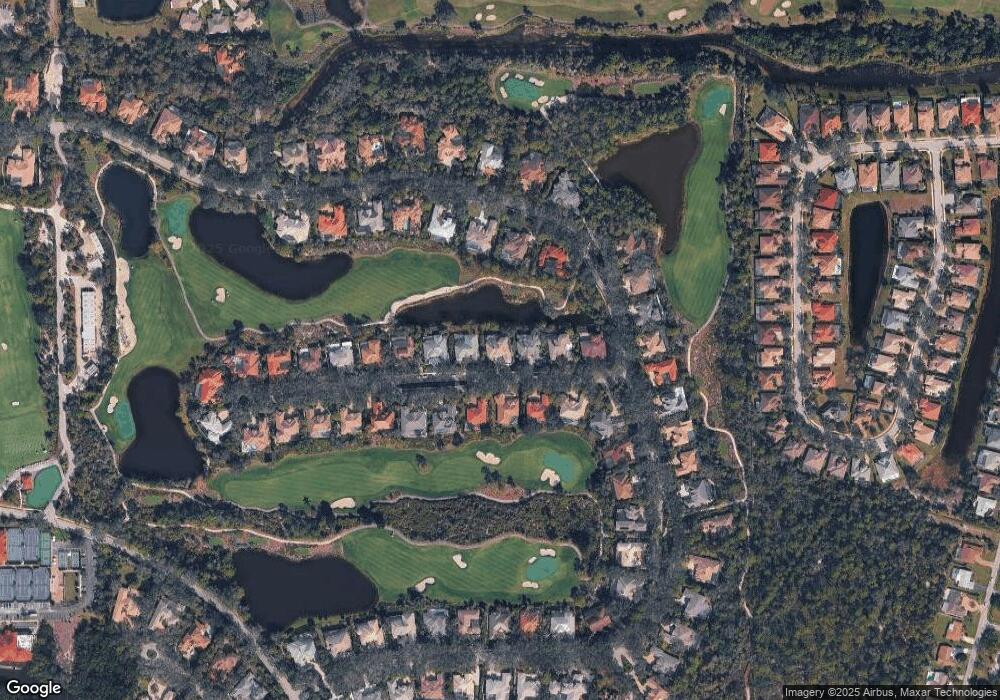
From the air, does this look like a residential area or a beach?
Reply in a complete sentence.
What you see here is a residential area.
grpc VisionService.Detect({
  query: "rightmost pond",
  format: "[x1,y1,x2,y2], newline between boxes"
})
[942,194,1000,457]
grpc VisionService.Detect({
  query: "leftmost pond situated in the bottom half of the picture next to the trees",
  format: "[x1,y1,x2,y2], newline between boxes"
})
[120,366,202,480]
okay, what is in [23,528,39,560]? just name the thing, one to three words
tennis court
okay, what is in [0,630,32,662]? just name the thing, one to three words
building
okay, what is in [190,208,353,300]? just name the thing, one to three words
pond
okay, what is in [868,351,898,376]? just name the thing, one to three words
house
